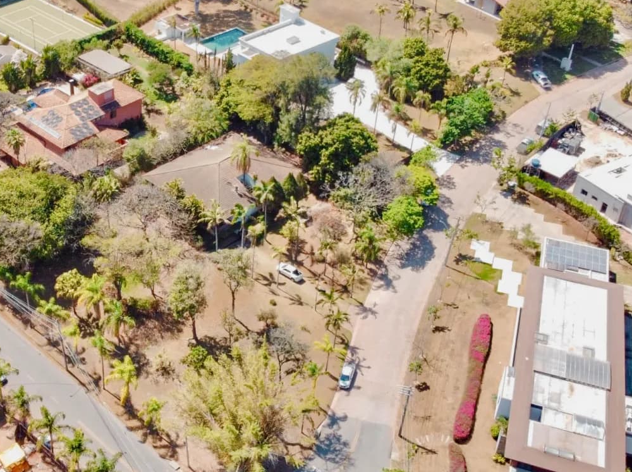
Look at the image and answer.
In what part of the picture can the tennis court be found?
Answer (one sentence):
Look in the top left portion of the view to spot the tennis court.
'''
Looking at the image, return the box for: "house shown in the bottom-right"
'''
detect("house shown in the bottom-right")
[490,238,632,472]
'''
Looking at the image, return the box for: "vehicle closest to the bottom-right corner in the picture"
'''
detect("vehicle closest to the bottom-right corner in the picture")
[338,361,356,389]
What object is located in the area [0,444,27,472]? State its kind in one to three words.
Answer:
shed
